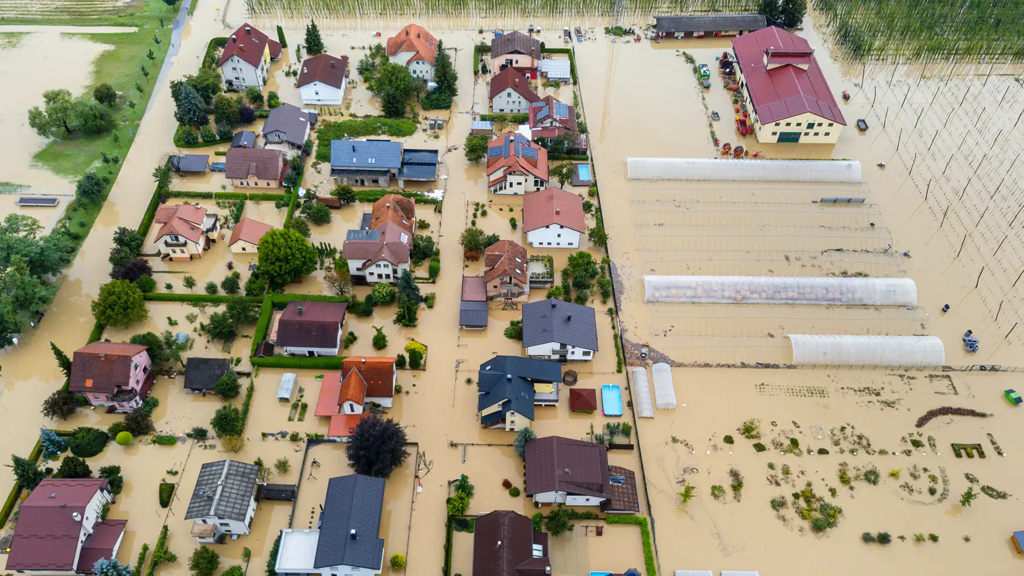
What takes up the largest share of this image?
water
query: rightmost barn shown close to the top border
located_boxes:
[733,26,847,144]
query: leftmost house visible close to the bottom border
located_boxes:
[5,479,130,576]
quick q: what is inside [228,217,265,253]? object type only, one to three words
house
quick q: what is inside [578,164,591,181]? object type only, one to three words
swimming pool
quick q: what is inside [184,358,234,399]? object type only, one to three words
building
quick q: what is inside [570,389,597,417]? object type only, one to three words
gazebo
